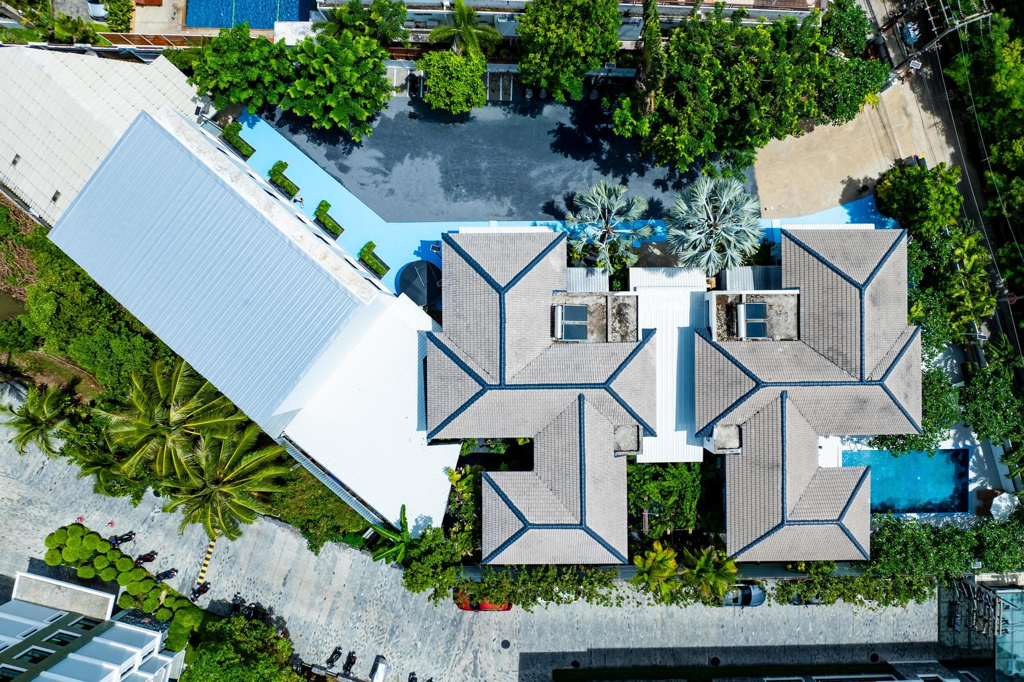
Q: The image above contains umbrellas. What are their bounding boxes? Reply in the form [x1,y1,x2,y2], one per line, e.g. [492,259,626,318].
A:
[398,261,441,305]
[973,493,1012,520]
